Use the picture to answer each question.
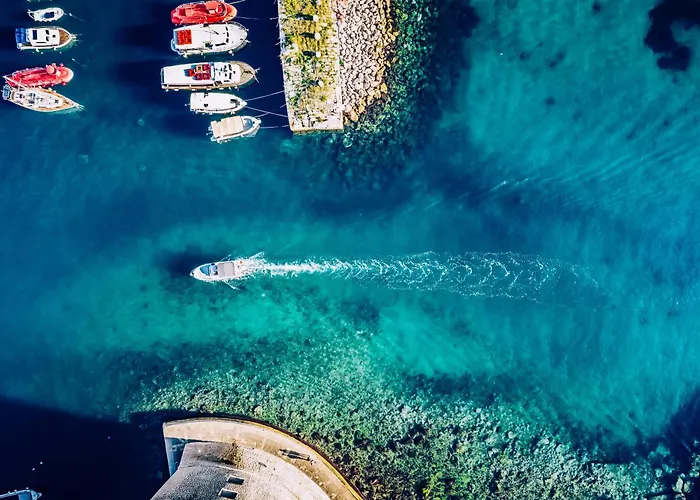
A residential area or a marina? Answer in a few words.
marina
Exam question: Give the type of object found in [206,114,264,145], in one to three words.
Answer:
boat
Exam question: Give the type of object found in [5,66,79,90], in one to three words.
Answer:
boat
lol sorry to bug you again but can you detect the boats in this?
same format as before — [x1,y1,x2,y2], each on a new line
[0,80,87,114]
[170,19,252,58]
[187,260,252,281]
[5,66,79,90]
[15,25,80,52]
[161,57,262,93]
[171,0,239,26]
[206,114,264,145]
[185,92,250,115]
[26,6,67,24]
